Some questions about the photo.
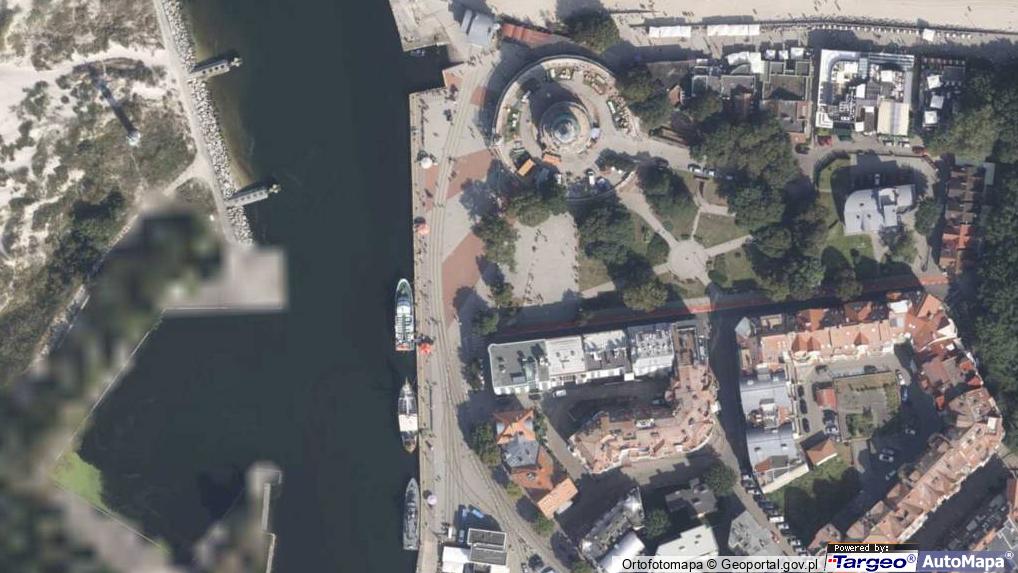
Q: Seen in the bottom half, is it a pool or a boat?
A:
boat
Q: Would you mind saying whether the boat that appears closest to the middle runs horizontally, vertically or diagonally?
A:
vertically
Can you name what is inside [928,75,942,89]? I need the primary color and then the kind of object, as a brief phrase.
white umbrella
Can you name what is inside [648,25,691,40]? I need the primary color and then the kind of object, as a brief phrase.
white tent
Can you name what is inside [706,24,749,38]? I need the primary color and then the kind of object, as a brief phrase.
white tent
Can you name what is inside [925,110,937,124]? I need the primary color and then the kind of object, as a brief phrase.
white umbrella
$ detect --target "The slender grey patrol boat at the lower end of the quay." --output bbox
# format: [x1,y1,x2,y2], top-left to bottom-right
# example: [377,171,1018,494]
[404,478,424,550]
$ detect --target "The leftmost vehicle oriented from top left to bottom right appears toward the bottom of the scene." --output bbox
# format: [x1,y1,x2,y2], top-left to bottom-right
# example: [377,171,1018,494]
[470,507,486,520]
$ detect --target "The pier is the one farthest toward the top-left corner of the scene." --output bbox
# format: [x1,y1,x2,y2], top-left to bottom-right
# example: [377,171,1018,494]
[189,63,232,82]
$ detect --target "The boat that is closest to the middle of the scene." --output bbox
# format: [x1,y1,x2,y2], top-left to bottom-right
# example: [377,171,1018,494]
[395,279,418,352]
